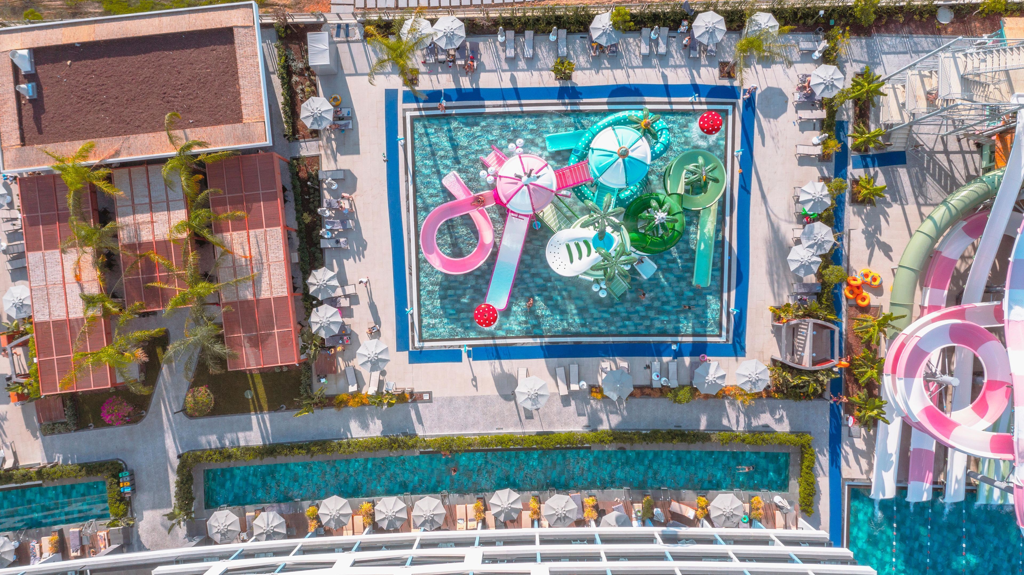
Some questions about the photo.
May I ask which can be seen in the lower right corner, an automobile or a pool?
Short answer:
pool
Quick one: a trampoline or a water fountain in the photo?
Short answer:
water fountain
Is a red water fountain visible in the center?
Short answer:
Yes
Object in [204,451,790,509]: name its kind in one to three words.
swimming pool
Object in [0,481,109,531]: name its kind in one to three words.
swimming pool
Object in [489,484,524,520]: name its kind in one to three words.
umbrella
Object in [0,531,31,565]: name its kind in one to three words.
umbrella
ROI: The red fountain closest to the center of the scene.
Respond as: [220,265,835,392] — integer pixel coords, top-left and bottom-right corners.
[474,303,498,327]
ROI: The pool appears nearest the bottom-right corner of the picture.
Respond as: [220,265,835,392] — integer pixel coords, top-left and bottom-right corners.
[850,488,1024,575]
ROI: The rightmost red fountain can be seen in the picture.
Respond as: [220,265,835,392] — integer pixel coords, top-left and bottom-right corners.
[695,111,723,136]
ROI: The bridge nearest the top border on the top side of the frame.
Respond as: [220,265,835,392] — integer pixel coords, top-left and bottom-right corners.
[554,161,593,190]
